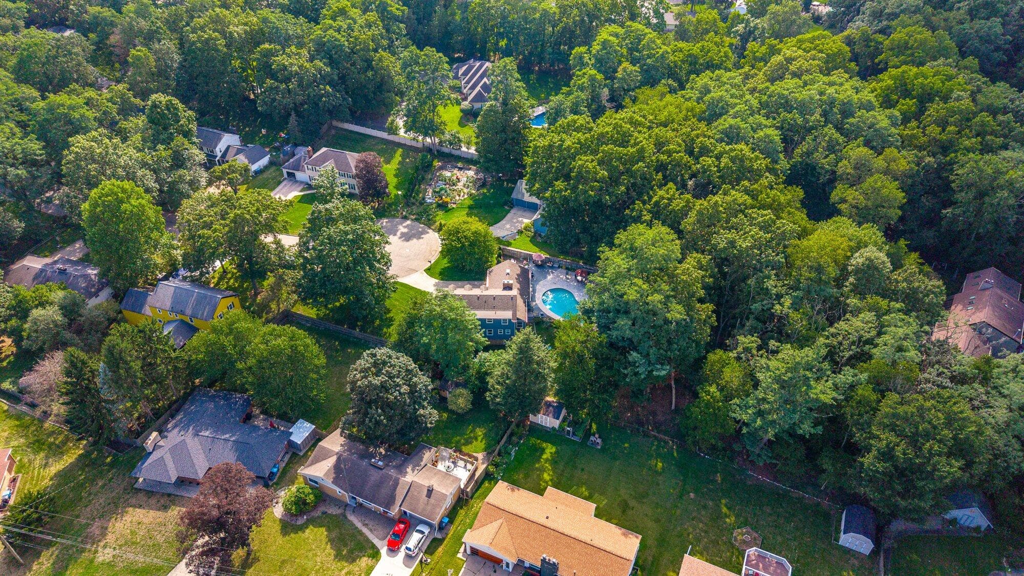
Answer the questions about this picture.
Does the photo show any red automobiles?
Yes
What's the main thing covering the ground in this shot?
trees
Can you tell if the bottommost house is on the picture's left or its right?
right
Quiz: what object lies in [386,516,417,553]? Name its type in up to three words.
car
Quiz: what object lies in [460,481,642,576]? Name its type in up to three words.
house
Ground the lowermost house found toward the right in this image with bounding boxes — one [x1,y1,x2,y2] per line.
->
[678,546,744,576]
